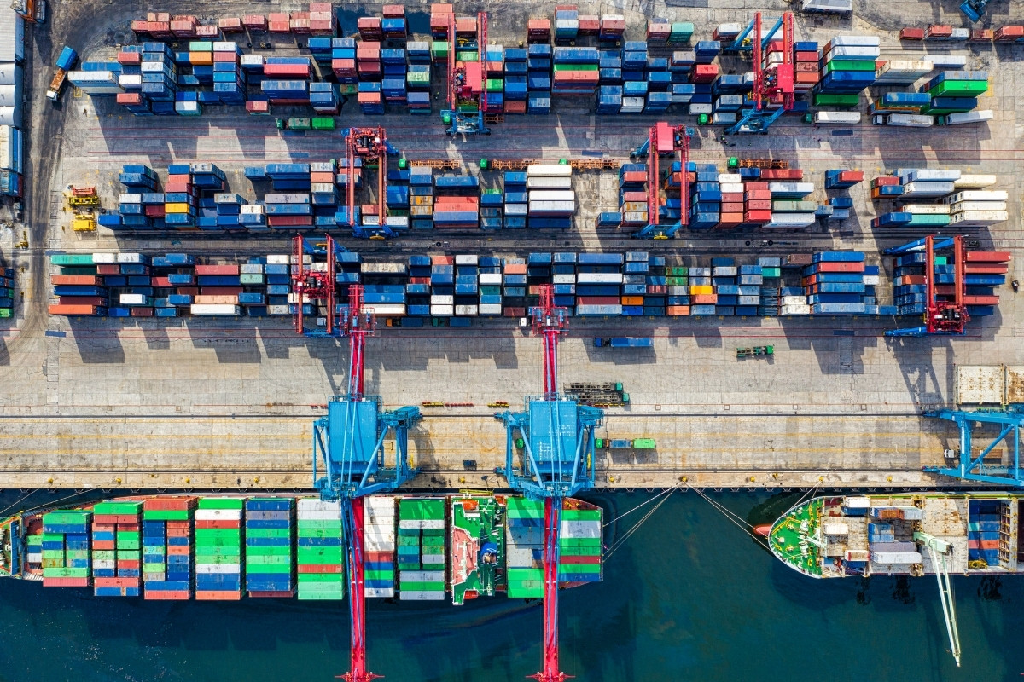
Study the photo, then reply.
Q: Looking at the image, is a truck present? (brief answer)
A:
Yes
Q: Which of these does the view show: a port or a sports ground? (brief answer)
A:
port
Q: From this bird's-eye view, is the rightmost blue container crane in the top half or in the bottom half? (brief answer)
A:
bottom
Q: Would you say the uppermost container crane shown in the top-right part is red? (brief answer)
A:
Yes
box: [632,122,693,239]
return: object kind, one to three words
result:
container crane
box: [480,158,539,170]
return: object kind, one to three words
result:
vehicle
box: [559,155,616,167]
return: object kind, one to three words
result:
vehicle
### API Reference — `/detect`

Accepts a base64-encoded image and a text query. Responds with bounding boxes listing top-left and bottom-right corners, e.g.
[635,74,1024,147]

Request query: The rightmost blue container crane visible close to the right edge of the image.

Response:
[923,405,1024,493]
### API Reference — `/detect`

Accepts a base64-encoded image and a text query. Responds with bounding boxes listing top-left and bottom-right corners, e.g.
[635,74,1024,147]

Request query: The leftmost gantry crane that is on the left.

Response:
[292,235,357,336]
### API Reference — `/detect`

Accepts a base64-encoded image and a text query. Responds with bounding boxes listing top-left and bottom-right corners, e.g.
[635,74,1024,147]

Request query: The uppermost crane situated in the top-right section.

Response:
[725,11,795,137]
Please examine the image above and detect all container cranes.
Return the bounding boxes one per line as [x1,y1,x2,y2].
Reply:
[923,405,1024,493]
[292,235,357,336]
[725,11,795,137]
[307,285,432,682]
[344,126,404,239]
[632,122,693,239]
[495,285,602,682]
[445,11,494,137]
[879,235,965,336]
